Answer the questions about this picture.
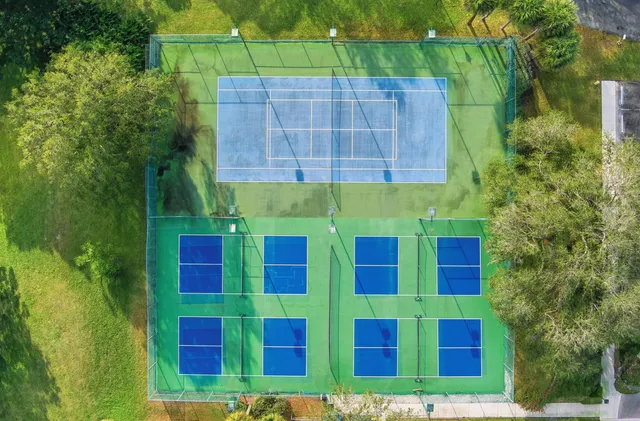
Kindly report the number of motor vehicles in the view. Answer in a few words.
zero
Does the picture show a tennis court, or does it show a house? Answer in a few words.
tennis court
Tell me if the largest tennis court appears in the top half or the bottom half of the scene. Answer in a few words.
top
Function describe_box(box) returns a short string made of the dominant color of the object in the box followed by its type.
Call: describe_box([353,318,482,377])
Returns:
blue sports court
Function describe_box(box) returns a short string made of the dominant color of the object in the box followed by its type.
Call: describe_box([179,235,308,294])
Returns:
blue sports court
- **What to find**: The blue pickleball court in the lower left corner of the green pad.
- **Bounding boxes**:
[178,317,308,375]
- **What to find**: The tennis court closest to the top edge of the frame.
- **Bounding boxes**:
[156,41,508,217]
